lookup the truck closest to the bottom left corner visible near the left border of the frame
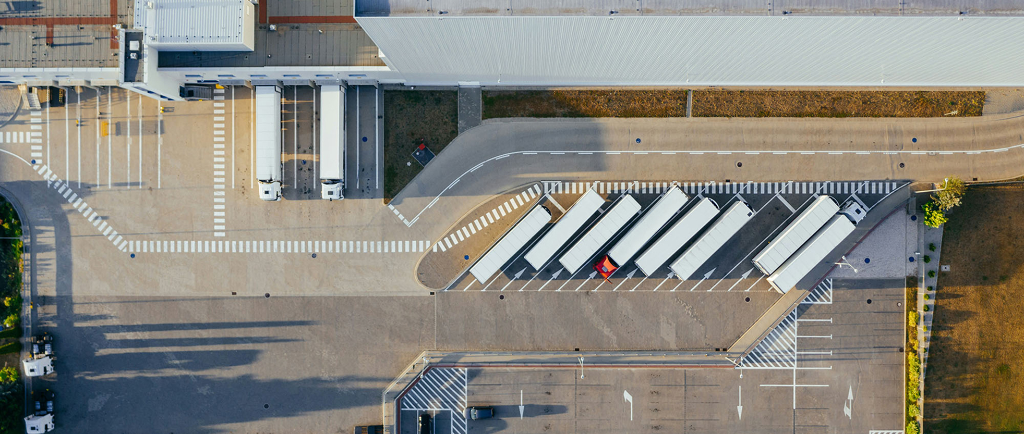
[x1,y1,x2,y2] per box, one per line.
[23,390,57,434]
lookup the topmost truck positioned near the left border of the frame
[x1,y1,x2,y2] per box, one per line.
[21,333,56,377]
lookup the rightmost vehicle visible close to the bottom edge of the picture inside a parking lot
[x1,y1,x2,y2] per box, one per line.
[463,405,494,421]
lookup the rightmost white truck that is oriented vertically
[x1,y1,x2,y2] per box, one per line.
[321,85,346,201]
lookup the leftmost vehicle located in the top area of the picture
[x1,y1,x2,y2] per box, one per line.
[256,85,284,201]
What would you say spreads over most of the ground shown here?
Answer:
paved ground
